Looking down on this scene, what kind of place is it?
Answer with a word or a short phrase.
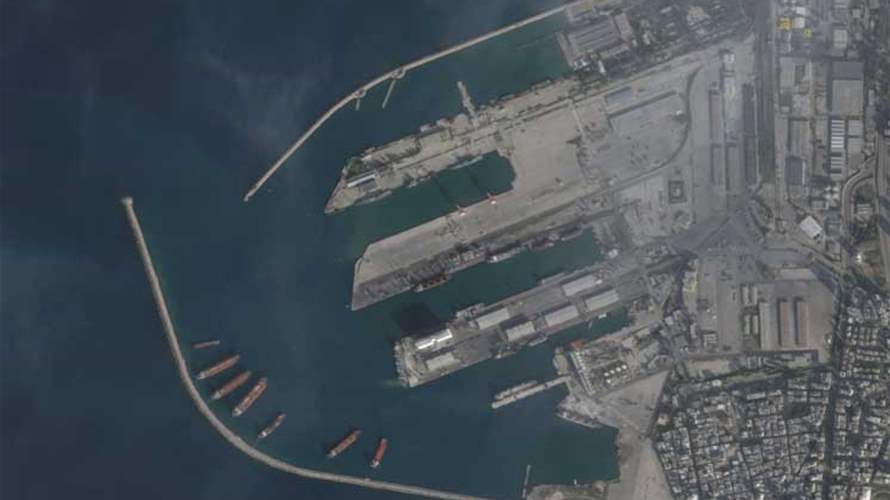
port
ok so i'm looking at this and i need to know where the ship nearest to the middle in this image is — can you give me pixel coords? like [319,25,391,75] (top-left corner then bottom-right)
[414,277,450,292]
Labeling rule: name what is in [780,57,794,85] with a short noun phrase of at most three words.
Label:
building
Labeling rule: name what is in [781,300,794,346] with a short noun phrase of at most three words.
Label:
building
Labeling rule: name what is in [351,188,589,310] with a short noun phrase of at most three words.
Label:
pier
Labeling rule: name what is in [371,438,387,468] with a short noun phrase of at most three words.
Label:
ship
